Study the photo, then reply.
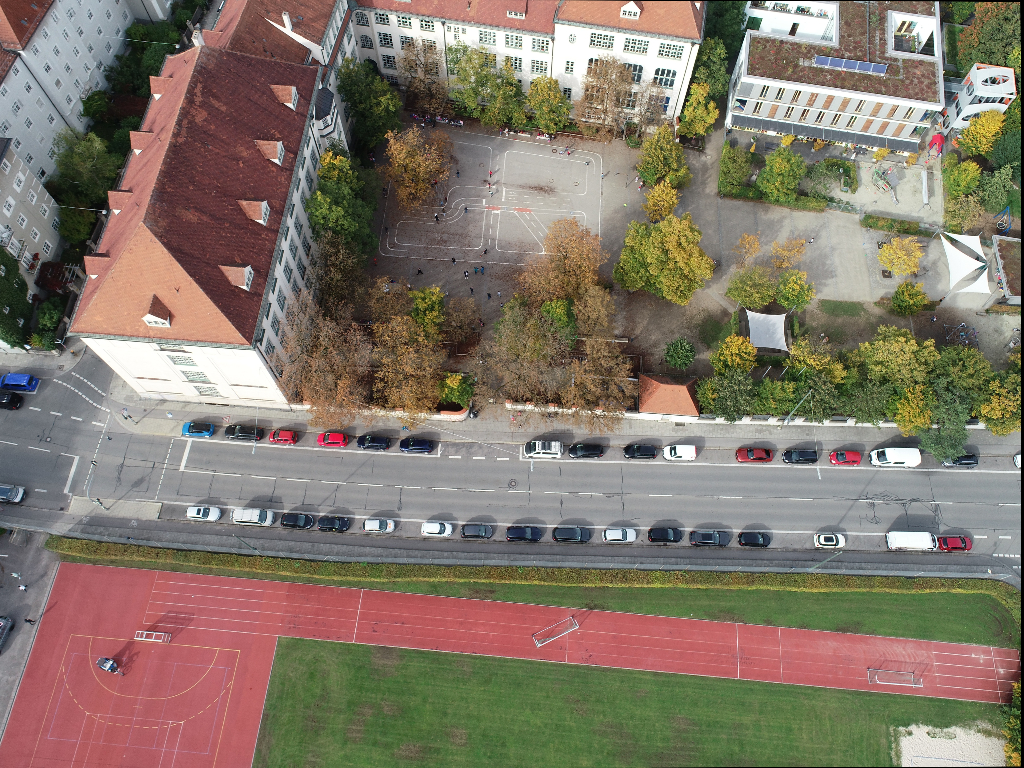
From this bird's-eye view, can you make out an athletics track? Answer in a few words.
Yes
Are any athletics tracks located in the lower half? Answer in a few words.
Yes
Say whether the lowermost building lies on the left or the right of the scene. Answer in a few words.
right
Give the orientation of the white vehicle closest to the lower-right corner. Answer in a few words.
from left to right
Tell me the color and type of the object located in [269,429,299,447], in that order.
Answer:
red car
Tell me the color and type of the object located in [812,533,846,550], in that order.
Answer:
white car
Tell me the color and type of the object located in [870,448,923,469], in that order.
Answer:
white vehicle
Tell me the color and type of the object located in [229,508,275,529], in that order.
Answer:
white vehicle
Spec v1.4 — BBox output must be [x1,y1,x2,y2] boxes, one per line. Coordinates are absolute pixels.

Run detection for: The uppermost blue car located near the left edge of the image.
[0,373,39,394]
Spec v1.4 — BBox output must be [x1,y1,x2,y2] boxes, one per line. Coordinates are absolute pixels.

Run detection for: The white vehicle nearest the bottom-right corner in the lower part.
[885,531,936,552]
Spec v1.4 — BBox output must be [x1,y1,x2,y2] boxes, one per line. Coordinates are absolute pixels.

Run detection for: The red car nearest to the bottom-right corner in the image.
[936,535,972,553]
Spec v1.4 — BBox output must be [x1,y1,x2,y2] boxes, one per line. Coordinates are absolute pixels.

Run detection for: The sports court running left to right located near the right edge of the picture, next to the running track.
[889,721,1011,768]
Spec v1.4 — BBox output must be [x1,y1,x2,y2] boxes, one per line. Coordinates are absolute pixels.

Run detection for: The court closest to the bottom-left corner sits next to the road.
[0,561,277,768]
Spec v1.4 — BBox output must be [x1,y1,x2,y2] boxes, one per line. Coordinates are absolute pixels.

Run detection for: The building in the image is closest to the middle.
[638,370,700,425]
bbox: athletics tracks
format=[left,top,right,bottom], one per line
[144,570,1018,704]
